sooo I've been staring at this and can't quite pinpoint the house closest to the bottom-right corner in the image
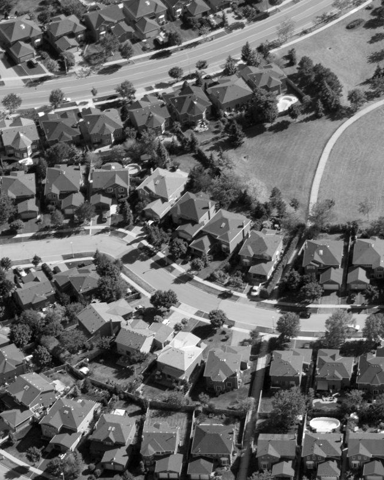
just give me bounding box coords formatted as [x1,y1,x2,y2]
[347,428,384,480]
